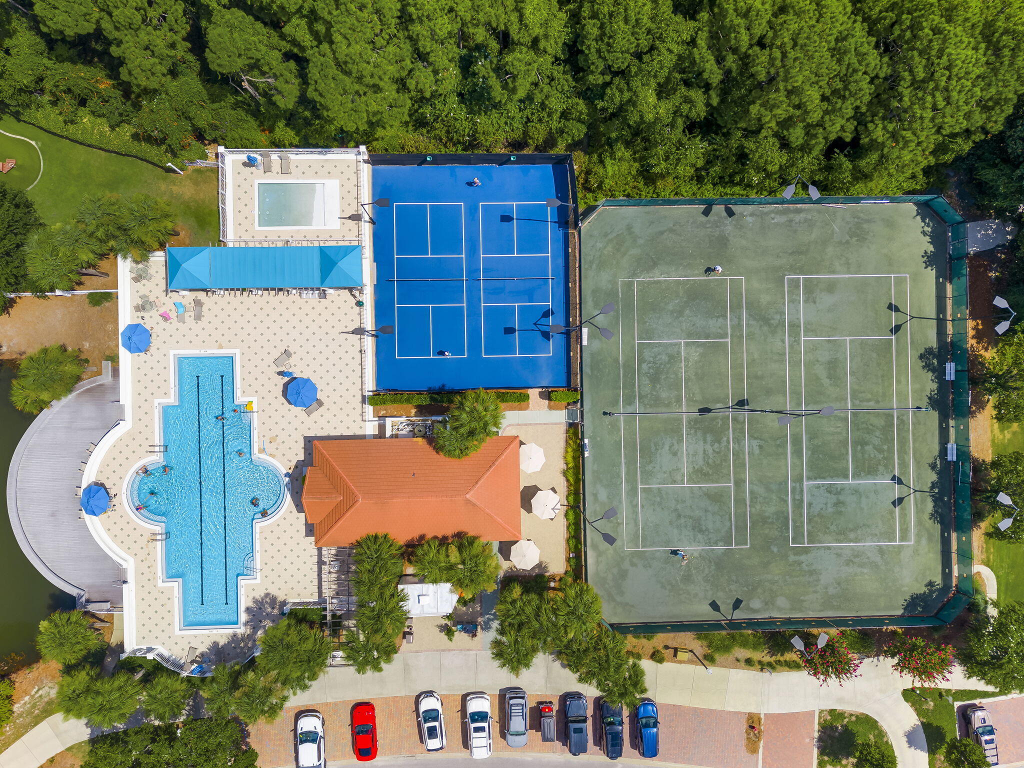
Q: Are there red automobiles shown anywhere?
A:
Yes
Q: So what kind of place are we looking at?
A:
sports ground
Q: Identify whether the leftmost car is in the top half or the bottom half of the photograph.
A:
bottom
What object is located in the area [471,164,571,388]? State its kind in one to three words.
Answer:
sports court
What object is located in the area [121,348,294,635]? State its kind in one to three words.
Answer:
swimming pool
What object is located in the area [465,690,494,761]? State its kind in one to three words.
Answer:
car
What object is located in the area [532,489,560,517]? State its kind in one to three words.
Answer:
umbrella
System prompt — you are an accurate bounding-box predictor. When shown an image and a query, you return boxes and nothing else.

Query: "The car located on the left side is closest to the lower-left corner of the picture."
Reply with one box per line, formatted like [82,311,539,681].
[295,709,325,768]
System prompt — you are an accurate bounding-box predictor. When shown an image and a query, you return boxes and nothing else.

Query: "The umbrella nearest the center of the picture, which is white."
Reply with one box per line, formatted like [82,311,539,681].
[521,444,545,471]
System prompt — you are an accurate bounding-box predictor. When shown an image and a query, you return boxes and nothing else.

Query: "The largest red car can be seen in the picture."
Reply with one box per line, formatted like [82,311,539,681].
[350,700,379,762]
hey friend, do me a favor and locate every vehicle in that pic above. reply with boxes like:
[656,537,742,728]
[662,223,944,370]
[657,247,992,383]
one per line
[564,691,591,757]
[633,696,661,759]
[960,703,1008,768]
[503,686,530,747]
[350,700,379,762]
[465,690,494,761]
[295,709,325,768]
[595,694,625,761]
[416,690,448,755]
[540,701,557,748]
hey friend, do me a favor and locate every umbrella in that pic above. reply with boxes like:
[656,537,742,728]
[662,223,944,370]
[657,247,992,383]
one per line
[521,444,545,471]
[123,324,155,353]
[532,489,560,517]
[510,539,540,569]
[287,376,319,407]
[196,657,213,672]
[83,485,116,514]
[286,370,299,378]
